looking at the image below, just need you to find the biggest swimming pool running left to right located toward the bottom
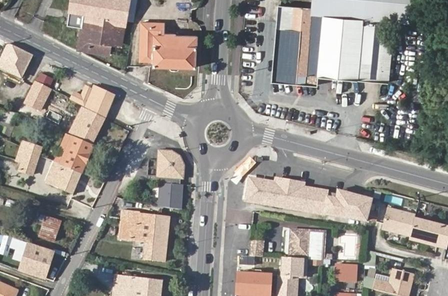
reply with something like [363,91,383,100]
[382,194,404,207]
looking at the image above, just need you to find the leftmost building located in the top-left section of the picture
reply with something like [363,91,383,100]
[0,44,32,82]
